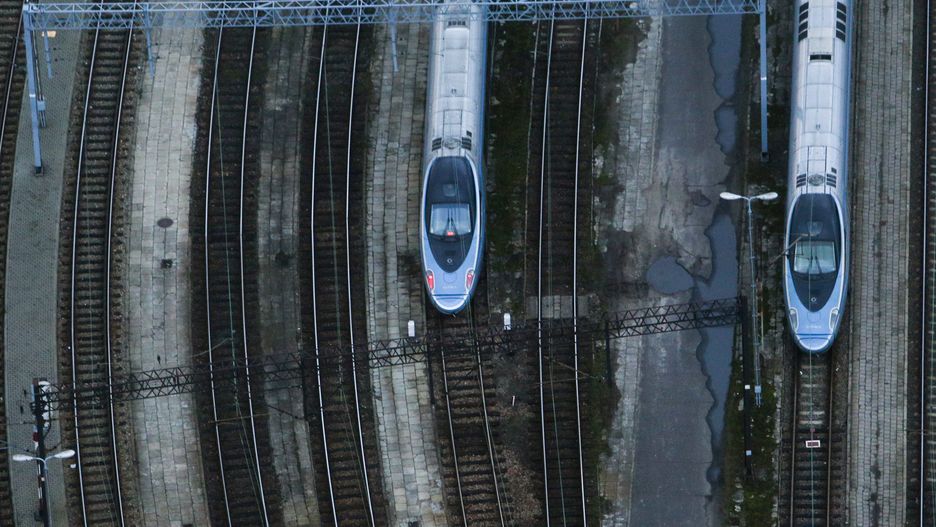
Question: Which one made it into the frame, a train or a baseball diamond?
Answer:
train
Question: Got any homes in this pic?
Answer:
No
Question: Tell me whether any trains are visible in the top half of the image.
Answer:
Yes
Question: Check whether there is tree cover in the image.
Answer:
No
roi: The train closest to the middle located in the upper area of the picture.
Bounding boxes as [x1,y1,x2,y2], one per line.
[422,0,493,324]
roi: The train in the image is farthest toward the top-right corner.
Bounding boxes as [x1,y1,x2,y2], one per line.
[783,0,856,363]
